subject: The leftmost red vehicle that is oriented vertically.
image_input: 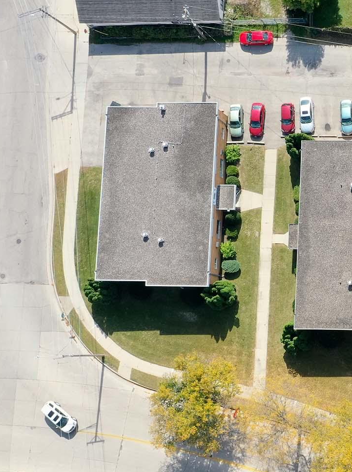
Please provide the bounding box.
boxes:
[247,102,266,139]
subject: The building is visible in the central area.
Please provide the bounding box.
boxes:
[95,102,242,287]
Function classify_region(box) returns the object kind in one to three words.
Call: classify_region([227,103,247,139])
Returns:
car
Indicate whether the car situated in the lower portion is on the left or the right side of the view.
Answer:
left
